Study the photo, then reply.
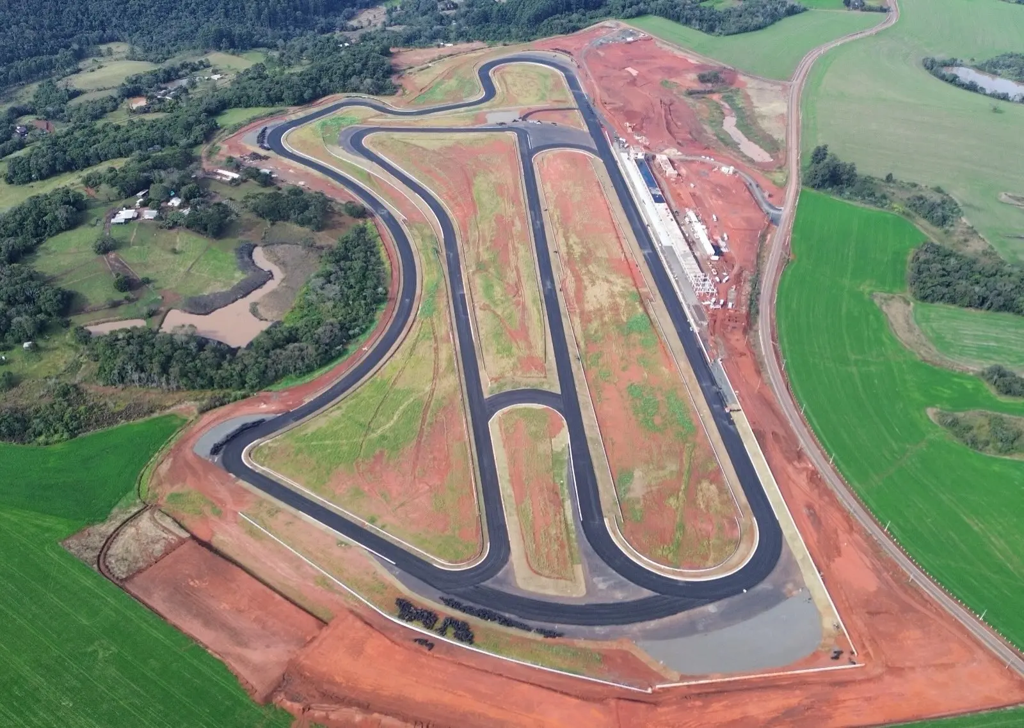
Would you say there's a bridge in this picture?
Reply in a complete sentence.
No, the scene contains no bridge.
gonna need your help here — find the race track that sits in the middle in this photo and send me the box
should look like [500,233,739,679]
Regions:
[224,57,781,598]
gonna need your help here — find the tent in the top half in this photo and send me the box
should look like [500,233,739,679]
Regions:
[687,210,715,258]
